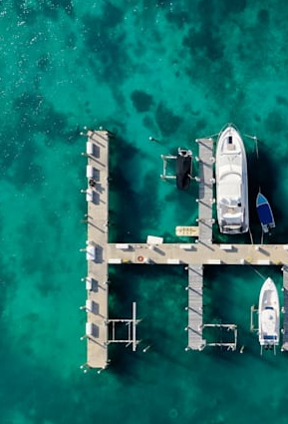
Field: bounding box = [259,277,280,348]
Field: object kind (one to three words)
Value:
boat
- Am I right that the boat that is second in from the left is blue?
No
